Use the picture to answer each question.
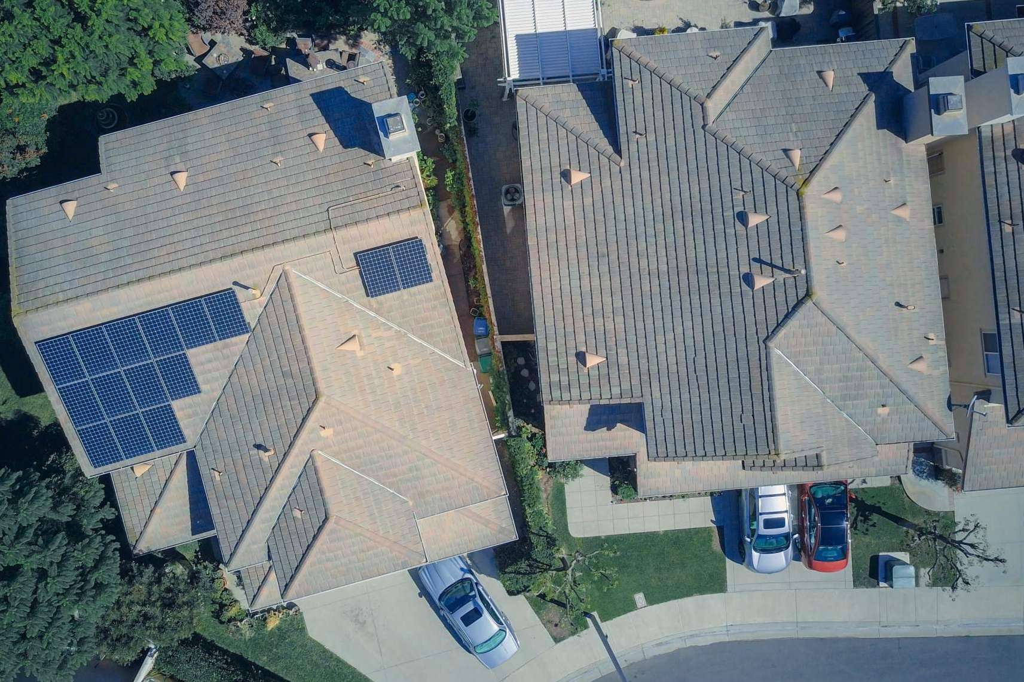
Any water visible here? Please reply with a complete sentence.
No, no water is visible.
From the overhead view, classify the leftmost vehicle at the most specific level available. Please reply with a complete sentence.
Specifically, the leftmost vehicle is a car.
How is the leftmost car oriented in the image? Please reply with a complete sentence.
The leftmost car has been laid out on a diagonal relative to the frame.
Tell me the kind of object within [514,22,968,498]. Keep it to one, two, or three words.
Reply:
house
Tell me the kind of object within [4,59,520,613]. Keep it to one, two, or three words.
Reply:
house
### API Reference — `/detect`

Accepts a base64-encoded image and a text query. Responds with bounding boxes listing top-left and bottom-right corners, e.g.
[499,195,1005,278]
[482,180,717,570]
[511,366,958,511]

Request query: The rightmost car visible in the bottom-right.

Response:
[796,480,853,573]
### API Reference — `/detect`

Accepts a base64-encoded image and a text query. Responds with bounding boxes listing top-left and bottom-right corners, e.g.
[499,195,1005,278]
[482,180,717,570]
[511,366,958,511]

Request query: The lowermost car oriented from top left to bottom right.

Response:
[426,555,516,665]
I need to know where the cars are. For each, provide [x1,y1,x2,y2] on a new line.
[426,555,516,665]
[796,480,853,573]
[740,485,798,575]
